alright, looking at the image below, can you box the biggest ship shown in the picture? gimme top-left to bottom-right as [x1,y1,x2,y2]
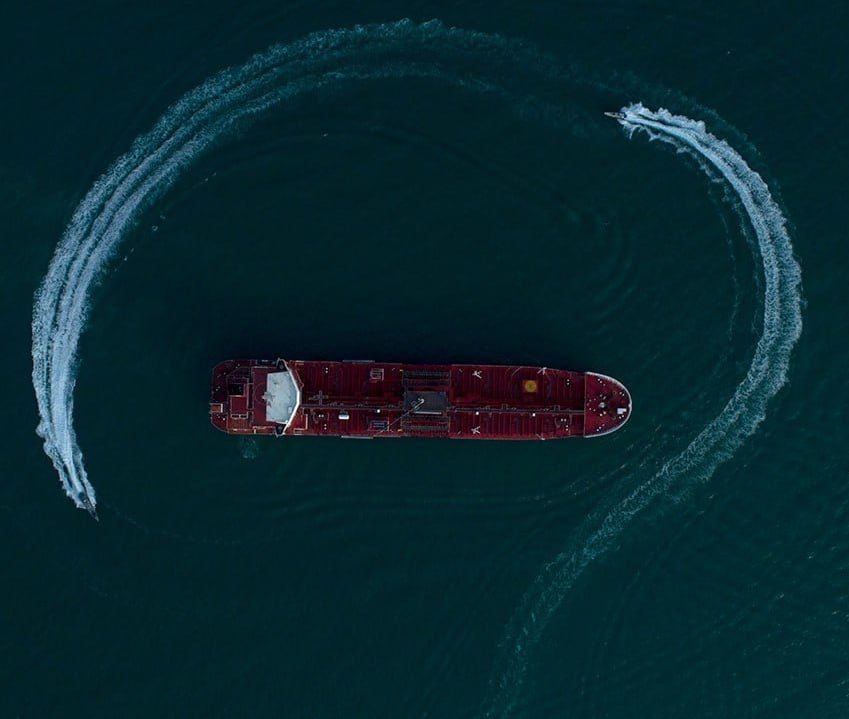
[210,359,633,440]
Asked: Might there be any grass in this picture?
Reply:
No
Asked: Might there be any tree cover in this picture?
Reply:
No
